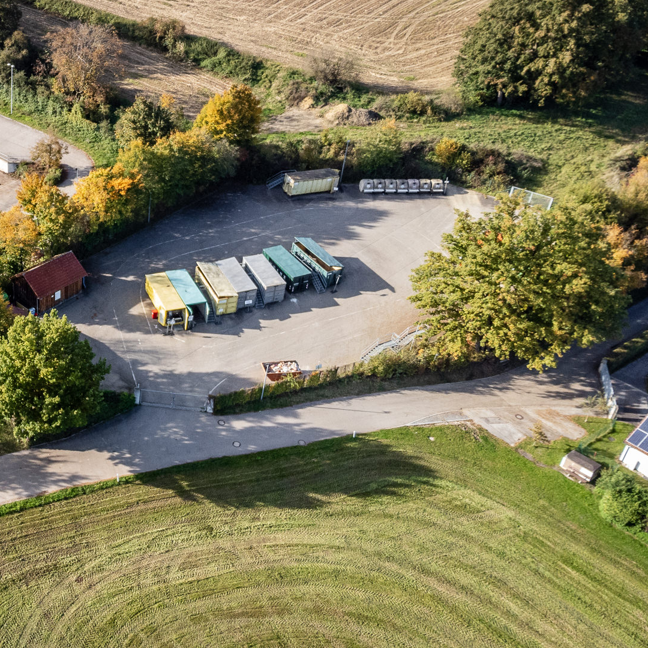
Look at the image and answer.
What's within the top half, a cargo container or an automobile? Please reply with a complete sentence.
You can see a cargo container within the top half.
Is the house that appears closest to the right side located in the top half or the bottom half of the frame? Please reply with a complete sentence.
The bottom half of the photo is where the house that appears closest to the right side is.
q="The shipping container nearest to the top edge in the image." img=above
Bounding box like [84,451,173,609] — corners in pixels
[282,168,339,195]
